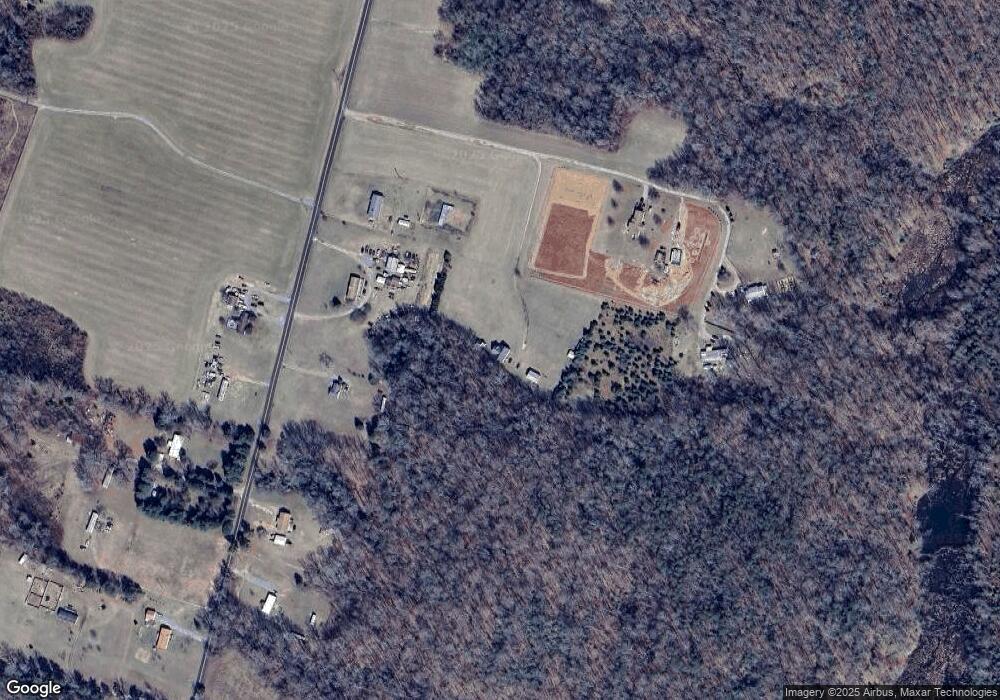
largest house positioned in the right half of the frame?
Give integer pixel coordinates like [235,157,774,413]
[700,347,728,371]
